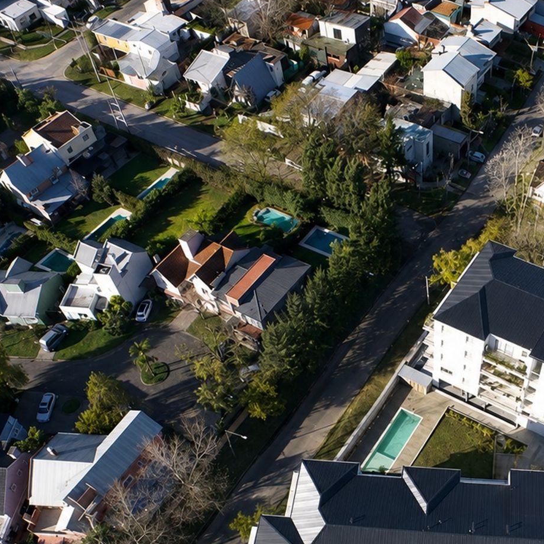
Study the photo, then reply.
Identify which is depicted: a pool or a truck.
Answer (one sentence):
Of the two, only a pool appears.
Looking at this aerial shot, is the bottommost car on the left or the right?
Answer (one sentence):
It is on the left.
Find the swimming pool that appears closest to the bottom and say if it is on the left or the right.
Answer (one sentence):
You can find the swimming pool that appears closest to the bottom on the right side of the picture.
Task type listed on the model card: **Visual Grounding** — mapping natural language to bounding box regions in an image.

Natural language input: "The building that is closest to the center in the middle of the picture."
[144,231,310,348]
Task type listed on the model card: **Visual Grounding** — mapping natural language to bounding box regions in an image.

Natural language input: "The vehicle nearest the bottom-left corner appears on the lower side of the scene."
[37,394,57,420]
